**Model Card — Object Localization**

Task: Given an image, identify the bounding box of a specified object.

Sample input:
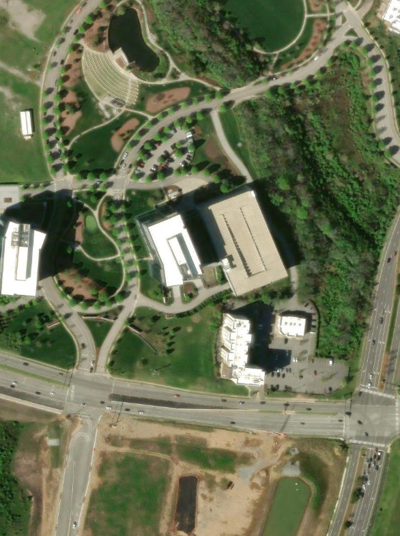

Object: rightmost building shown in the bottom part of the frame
[277,316,306,335]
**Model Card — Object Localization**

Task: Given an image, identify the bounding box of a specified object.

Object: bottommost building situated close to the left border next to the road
[0,212,46,296]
